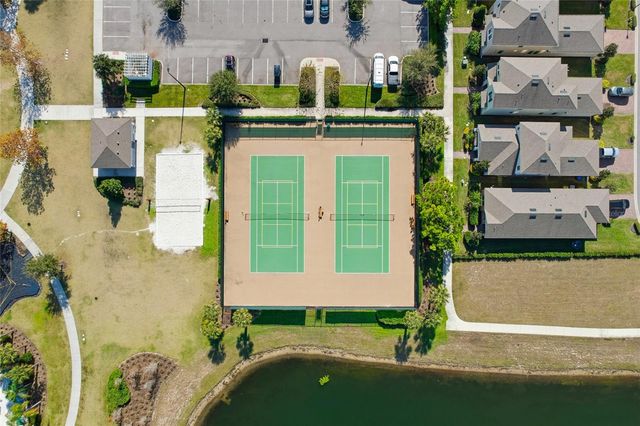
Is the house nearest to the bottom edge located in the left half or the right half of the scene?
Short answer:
right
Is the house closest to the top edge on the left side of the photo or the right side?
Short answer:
right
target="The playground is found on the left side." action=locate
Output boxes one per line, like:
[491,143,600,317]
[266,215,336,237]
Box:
[0,229,41,317]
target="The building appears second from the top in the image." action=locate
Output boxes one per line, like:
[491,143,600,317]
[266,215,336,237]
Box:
[473,57,602,114]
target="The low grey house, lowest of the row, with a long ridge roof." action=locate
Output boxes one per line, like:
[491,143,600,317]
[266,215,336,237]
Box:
[479,189,609,238]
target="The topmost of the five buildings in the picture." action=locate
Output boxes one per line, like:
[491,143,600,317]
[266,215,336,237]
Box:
[473,0,604,57]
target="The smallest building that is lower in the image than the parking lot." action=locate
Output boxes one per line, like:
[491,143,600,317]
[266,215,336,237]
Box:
[91,119,137,168]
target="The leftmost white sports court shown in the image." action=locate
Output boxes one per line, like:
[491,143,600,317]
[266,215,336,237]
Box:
[156,152,204,247]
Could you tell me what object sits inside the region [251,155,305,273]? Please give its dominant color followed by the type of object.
green tennis court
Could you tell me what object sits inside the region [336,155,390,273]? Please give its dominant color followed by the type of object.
green tennis court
